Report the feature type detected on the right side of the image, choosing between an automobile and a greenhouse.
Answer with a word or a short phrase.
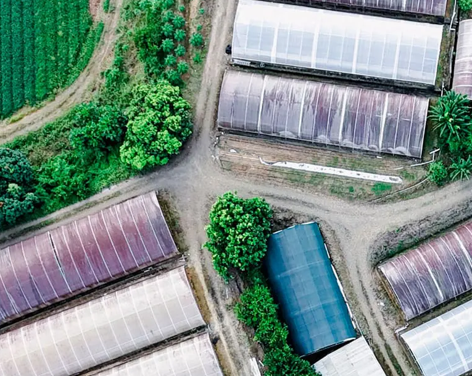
greenhouse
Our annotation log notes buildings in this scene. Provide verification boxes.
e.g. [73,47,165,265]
[269,222,361,356]
[378,221,472,321]
[231,0,444,89]
[311,336,386,376]
[217,68,430,161]
[0,191,181,326]
[0,266,205,376]
[400,300,472,376]
[92,334,222,376]
[451,20,472,100]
